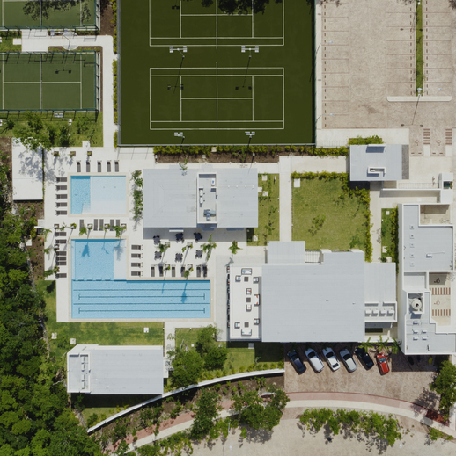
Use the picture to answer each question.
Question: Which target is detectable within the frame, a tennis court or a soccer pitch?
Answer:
tennis court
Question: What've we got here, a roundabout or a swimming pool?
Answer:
swimming pool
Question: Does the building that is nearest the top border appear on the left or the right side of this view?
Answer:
right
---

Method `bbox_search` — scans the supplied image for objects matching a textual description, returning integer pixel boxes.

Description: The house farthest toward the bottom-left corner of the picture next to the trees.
[68,344,169,394]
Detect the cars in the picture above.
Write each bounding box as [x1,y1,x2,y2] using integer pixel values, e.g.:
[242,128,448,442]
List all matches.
[339,349,360,374]
[377,354,390,376]
[304,349,326,374]
[287,350,308,377]
[322,348,343,373]
[354,346,378,373]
